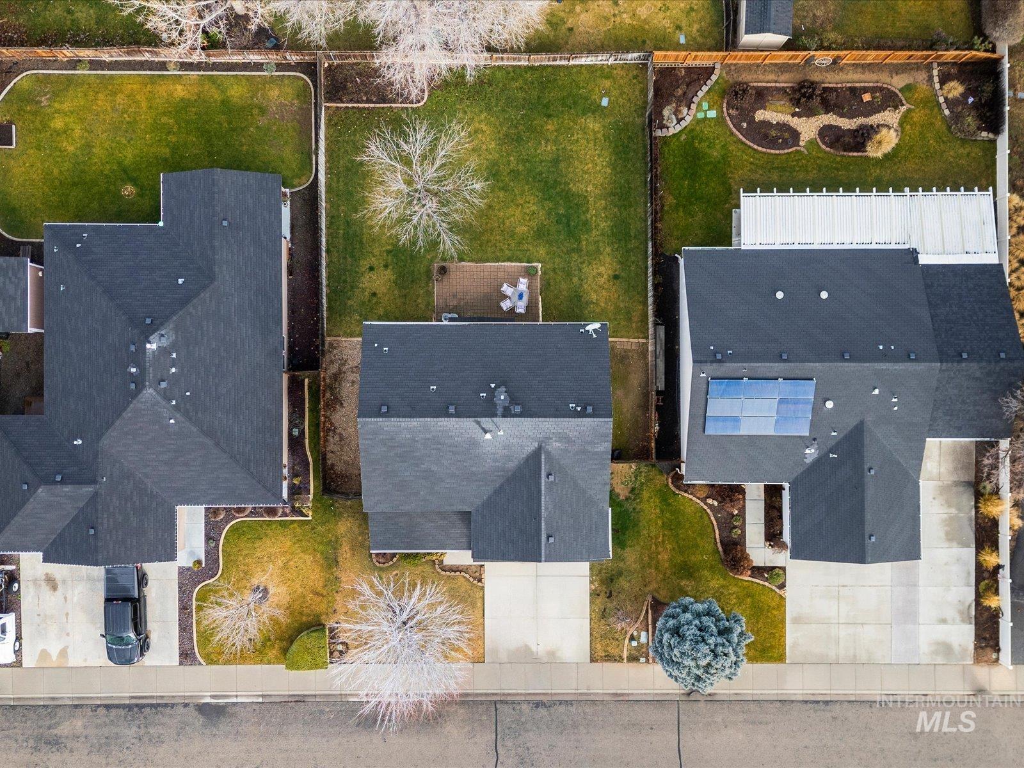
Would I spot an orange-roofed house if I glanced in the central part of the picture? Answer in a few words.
No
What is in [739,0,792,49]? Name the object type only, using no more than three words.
shed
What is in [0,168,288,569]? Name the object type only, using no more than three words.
house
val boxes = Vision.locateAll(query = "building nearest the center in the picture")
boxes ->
[356,318,612,567]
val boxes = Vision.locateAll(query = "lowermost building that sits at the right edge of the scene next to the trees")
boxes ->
[665,246,1024,565]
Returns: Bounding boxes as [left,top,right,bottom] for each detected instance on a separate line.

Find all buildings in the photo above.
[356,318,612,567]
[665,246,1024,565]
[739,0,792,49]
[0,168,288,569]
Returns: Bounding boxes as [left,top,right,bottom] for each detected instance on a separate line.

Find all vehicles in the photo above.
[97,565,148,671]
[0,568,20,669]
